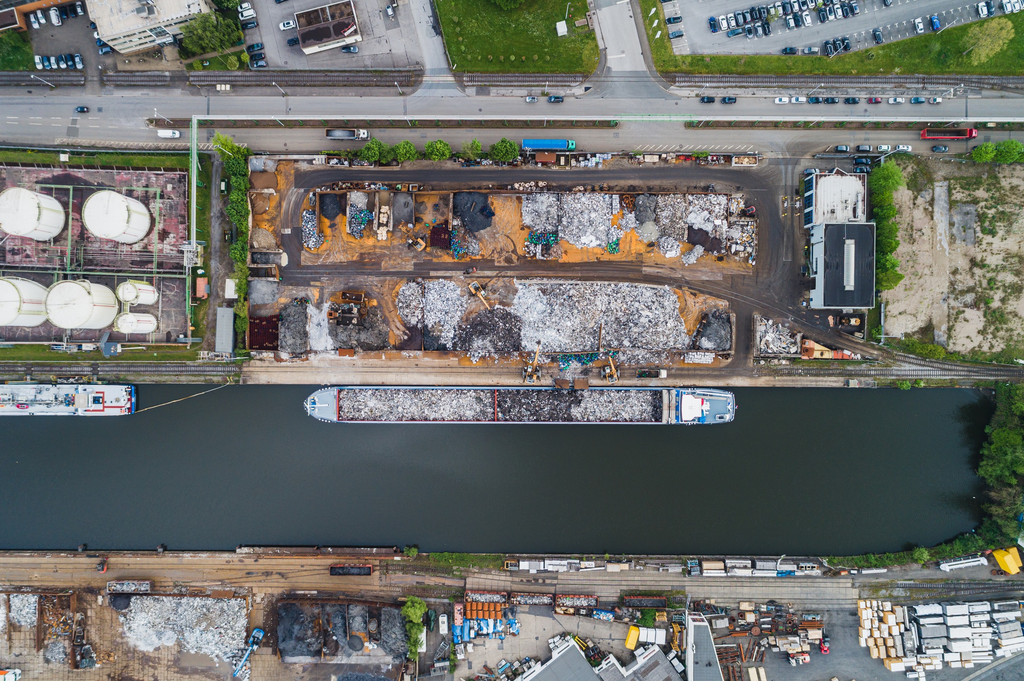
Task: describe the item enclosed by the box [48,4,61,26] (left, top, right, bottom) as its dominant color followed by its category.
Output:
white vehicle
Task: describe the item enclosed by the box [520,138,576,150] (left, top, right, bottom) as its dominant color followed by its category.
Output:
blue vehicle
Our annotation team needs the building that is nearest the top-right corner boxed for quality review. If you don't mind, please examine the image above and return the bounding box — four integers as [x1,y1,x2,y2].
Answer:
[804,168,867,228]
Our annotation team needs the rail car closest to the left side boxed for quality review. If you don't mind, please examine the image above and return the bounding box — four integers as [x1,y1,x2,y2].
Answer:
[107,580,156,593]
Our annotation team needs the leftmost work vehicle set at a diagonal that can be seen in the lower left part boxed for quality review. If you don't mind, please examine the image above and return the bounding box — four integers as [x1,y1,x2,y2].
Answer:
[227,625,267,681]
